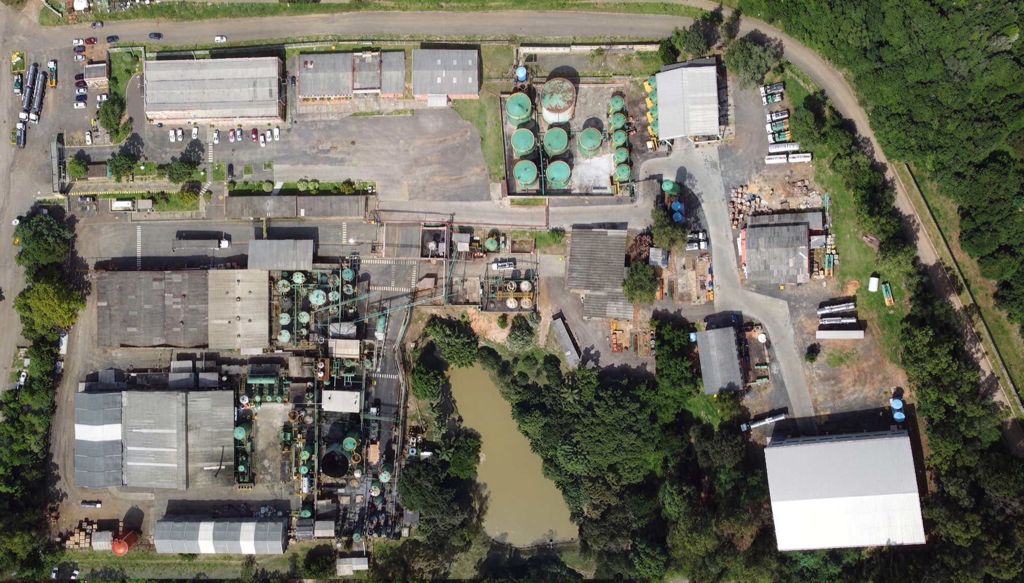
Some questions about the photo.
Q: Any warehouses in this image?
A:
Yes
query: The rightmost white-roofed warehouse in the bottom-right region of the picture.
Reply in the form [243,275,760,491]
[752,424,926,551]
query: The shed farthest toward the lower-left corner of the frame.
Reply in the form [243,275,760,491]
[91,528,118,550]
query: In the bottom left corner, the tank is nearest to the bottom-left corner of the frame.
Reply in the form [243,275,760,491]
[110,528,146,558]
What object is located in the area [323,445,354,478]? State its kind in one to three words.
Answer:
storage tank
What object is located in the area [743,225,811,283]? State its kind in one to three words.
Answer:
building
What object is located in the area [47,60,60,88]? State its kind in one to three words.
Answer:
vehicle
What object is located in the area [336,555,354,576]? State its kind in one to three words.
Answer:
shed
